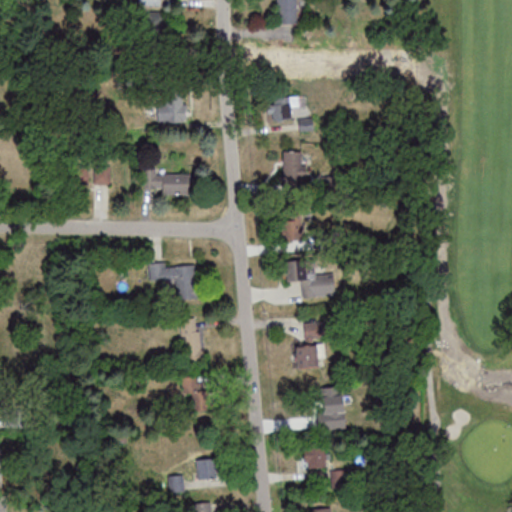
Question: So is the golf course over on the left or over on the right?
right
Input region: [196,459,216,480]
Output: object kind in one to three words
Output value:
building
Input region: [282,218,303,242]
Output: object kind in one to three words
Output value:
house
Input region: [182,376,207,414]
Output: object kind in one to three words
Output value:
house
